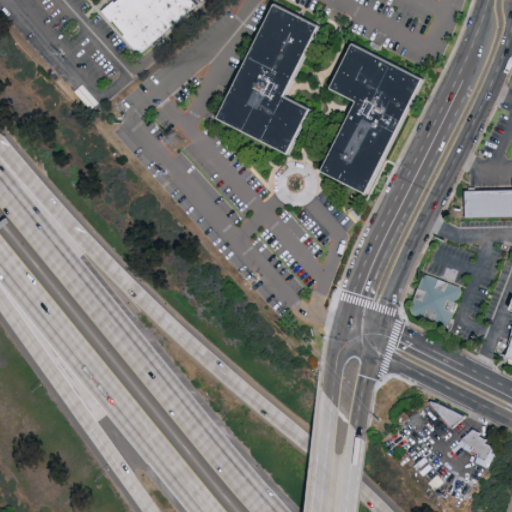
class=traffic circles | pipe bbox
[272,160,319,206]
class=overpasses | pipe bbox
[304,387,366,512]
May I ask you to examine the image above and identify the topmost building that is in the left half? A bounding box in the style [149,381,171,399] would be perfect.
[100,0,202,56]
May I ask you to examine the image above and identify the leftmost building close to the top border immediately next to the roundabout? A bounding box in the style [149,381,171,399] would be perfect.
[216,4,320,158]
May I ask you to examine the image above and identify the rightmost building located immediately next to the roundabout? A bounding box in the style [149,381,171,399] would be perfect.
[320,44,422,194]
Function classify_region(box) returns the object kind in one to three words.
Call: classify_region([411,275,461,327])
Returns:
building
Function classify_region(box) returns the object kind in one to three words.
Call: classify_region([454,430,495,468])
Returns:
building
